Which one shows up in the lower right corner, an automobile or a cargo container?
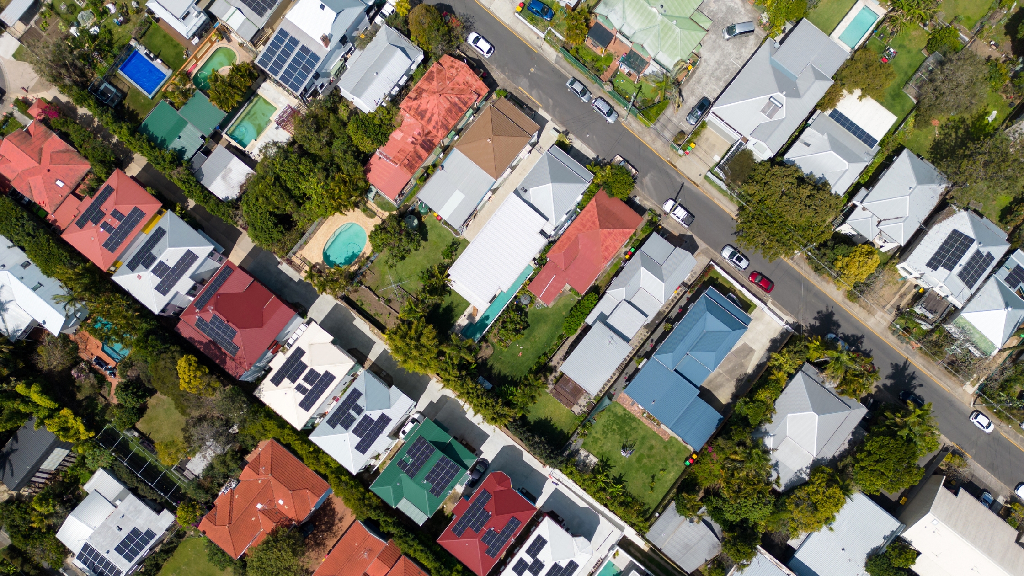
automobile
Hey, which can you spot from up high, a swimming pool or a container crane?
swimming pool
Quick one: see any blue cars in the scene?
Yes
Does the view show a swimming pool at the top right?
Yes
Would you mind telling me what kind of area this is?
residential area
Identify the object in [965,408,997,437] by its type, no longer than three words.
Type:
car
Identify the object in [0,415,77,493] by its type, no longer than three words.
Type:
house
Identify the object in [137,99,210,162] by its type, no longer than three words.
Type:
shed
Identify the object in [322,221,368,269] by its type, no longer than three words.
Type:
swimming pool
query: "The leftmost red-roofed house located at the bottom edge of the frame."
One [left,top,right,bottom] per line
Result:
[197,438,333,560]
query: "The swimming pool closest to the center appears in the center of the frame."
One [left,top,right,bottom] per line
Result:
[461,262,536,342]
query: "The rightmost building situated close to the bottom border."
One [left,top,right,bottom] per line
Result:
[893,484,1024,576]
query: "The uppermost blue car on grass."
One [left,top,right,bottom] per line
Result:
[527,0,556,22]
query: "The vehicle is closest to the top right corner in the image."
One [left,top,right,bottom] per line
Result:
[722,20,755,41]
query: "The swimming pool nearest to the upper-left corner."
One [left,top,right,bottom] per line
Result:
[118,40,175,100]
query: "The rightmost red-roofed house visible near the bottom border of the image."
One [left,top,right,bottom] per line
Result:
[435,470,538,576]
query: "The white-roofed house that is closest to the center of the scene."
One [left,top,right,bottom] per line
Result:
[448,191,549,313]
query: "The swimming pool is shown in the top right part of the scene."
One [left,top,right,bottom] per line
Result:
[837,3,881,50]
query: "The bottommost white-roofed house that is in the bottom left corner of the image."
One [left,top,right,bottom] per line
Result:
[55,467,189,576]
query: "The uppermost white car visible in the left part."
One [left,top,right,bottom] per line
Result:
[372,1,396,27]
